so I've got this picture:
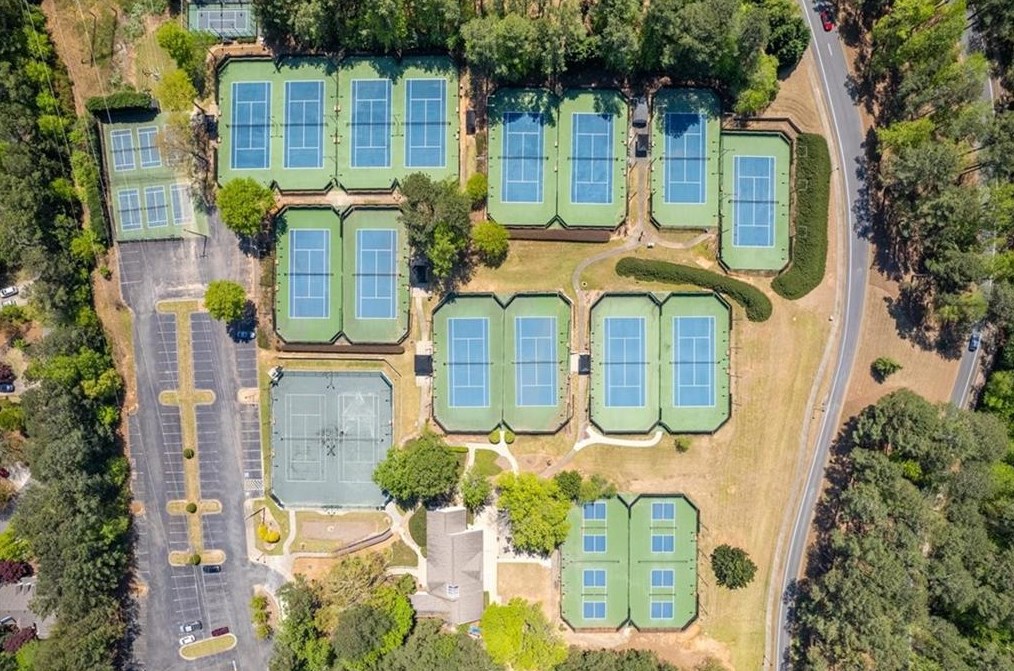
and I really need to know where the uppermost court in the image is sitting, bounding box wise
[189,3,255,37]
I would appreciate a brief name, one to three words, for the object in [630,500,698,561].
sports court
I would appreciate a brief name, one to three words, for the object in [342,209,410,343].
tennis court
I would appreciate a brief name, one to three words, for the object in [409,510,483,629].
building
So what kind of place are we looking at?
sports ground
